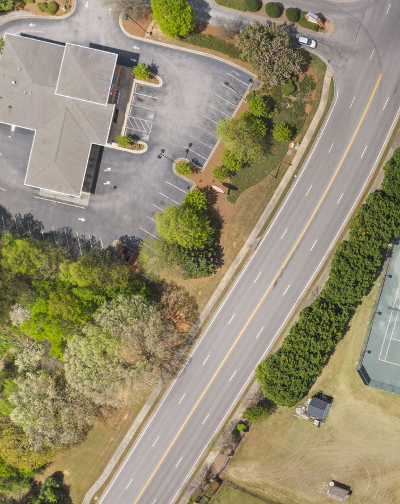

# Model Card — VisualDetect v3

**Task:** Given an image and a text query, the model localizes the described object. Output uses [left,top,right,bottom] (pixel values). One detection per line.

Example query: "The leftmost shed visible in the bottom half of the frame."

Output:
[307,398,330,419]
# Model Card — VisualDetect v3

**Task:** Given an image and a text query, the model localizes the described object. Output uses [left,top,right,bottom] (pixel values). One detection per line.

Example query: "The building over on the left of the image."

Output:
[0,33,129,197]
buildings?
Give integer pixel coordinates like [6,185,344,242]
[327,486,349,501]
[0,33,129,197]
[307,398,330,419]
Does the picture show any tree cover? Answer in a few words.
Yes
